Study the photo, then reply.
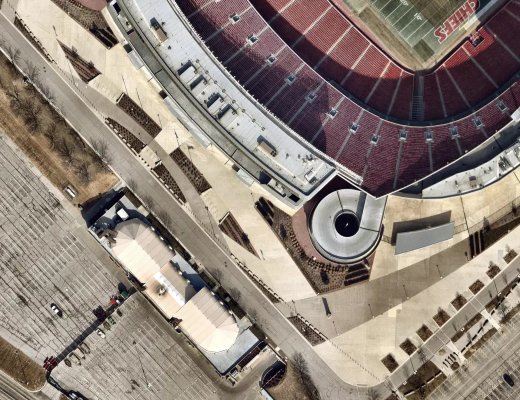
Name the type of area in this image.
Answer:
sports ground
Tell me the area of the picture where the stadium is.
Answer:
top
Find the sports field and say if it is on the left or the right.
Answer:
right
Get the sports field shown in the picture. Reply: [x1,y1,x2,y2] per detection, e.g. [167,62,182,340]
[274,0,512,113]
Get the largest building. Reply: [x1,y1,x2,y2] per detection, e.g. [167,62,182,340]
[88,196,265,377]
